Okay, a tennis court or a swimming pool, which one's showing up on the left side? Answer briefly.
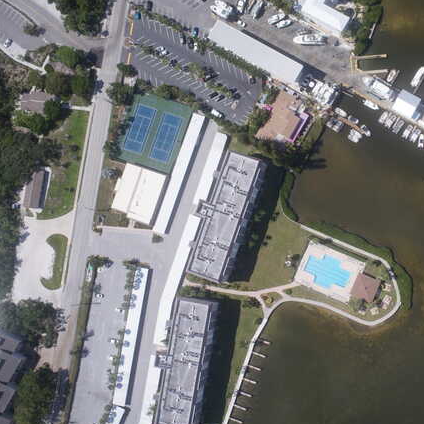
tennis court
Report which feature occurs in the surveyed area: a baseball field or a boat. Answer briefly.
boat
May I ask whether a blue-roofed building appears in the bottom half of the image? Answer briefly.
No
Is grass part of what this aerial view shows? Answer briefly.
Yes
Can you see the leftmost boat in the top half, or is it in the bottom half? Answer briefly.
top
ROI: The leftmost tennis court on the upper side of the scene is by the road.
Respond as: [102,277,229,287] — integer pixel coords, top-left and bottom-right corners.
[111,94,161,166]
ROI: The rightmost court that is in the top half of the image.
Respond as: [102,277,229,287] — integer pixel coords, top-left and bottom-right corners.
[140,100,193,174]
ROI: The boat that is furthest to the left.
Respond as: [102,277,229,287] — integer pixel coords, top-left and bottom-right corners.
[207,0,237,21]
